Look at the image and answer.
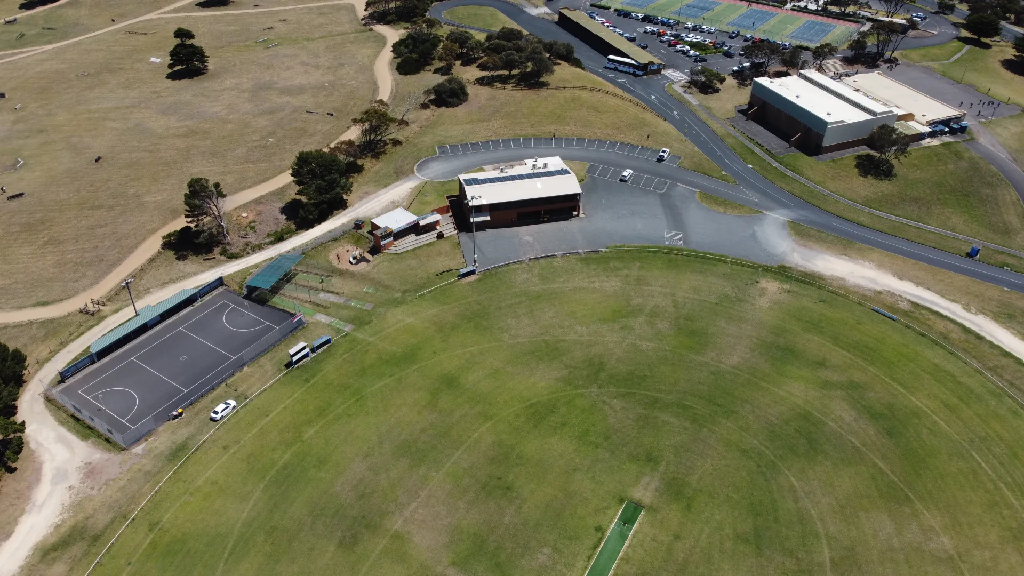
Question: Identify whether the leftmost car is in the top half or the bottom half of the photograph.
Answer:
bottom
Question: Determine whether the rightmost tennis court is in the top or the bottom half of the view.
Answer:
top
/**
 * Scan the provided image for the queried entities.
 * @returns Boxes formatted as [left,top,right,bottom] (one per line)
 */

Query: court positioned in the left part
[60,288,294,437]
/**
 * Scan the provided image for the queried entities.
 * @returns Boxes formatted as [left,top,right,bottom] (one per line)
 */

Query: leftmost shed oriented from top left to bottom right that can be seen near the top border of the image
[558,7,663,76]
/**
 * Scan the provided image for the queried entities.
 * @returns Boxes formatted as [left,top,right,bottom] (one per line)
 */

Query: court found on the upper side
[620,0,839,44]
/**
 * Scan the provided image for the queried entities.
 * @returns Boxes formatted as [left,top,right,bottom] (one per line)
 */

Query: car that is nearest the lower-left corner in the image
[207,399,238,420]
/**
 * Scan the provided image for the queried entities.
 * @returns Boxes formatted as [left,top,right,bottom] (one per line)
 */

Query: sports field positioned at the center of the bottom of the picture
[586,501,643,576]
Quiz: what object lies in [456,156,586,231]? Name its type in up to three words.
building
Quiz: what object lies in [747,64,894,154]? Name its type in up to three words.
building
